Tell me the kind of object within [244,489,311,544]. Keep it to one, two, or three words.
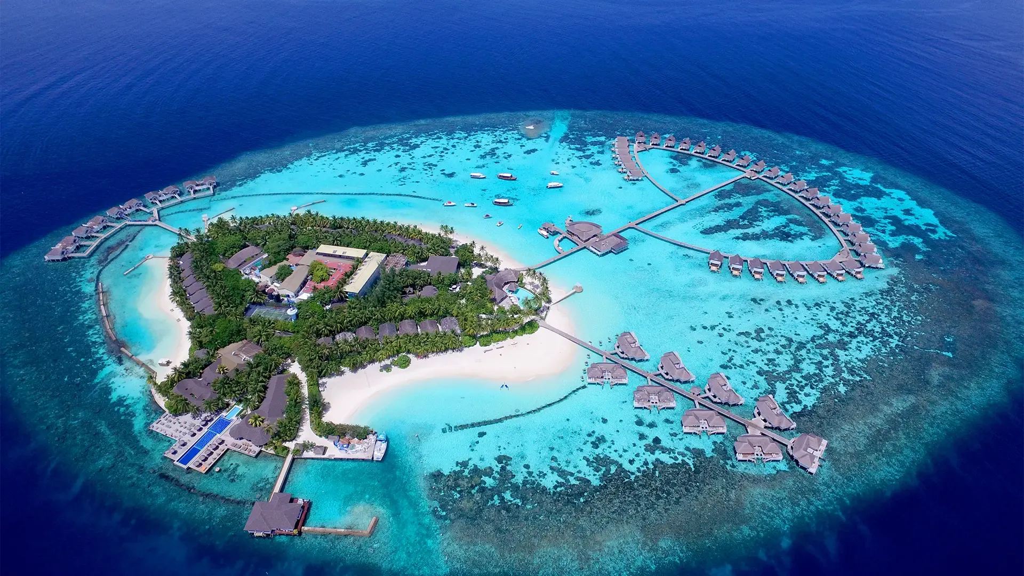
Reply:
building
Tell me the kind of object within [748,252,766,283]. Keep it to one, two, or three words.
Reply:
house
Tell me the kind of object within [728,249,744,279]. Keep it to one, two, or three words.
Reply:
house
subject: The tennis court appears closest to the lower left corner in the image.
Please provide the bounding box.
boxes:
[246,304,291,322]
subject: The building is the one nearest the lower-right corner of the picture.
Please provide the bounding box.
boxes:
[784,434,830,485]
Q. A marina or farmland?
marina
